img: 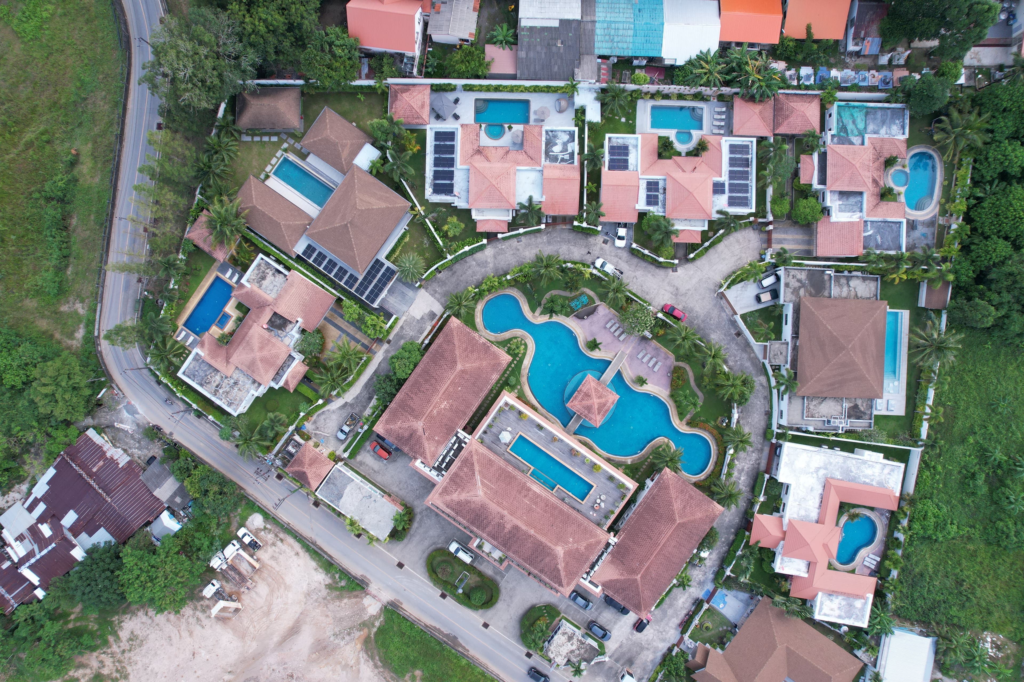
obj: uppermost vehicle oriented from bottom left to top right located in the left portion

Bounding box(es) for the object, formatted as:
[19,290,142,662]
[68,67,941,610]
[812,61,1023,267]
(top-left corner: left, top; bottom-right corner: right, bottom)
[336,413,358,441]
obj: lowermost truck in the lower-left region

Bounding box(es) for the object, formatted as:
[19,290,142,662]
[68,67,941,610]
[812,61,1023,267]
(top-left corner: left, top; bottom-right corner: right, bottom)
[194,580,237,628]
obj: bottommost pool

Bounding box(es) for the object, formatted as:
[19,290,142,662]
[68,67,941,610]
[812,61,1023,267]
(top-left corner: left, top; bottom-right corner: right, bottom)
[831,509,883,570]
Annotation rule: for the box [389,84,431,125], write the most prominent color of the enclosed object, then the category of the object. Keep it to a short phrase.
pink gazebo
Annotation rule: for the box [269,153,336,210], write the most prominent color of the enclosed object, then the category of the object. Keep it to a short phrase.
blue swimming pool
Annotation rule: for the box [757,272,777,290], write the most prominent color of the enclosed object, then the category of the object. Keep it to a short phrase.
white car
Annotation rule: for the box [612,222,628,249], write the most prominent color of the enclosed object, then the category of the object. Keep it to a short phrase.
white vehicle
